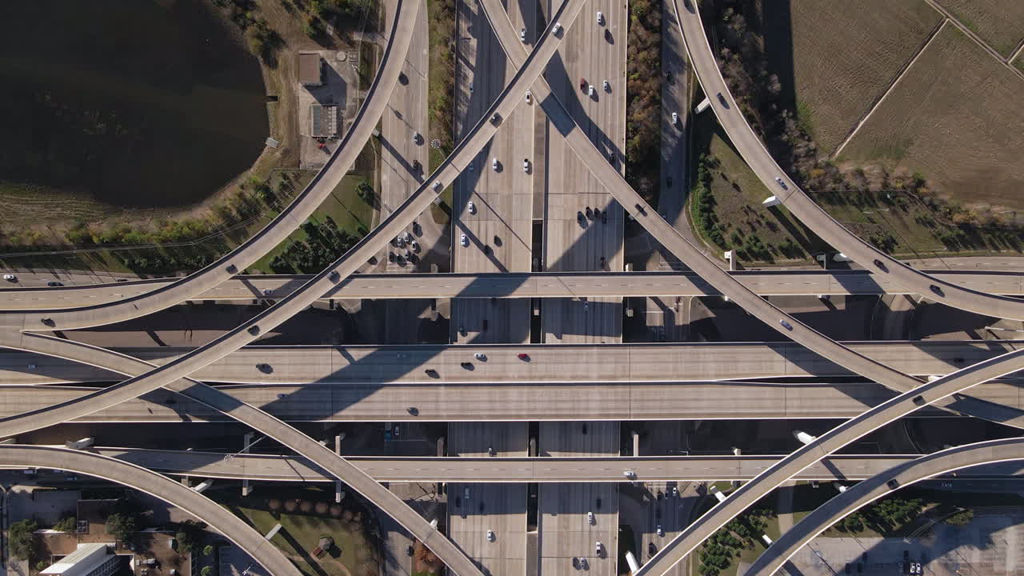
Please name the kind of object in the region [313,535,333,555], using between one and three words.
gazebo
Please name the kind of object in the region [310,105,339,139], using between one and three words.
building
